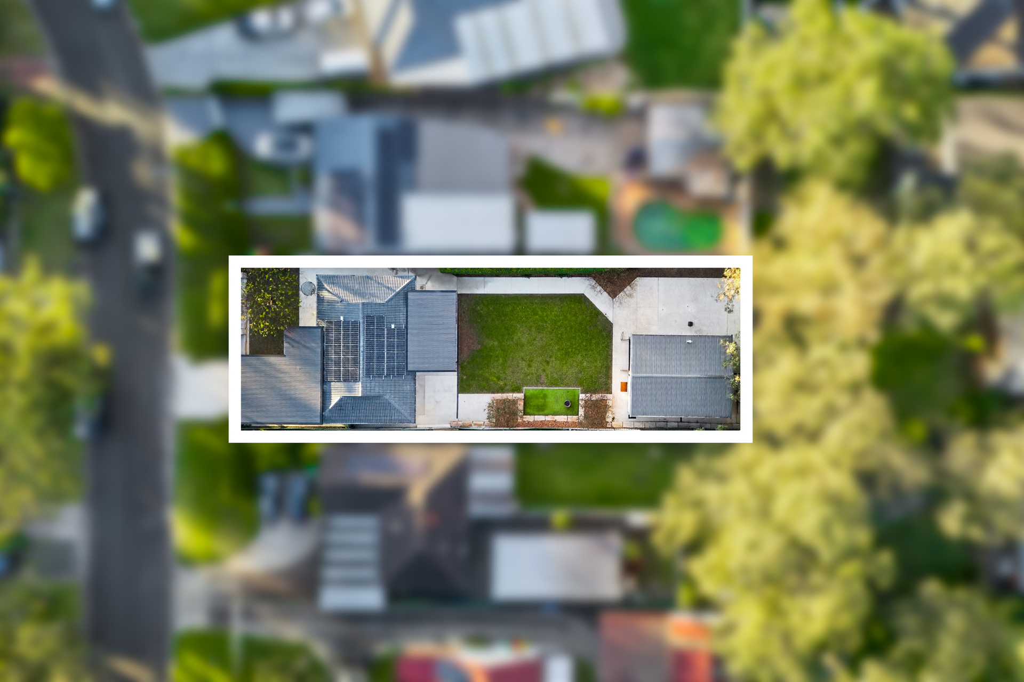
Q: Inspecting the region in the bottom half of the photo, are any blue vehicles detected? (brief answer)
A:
Yes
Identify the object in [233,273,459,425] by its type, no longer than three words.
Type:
house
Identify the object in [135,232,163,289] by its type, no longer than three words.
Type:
truck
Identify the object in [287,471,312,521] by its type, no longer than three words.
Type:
car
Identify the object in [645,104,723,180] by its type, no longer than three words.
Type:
building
